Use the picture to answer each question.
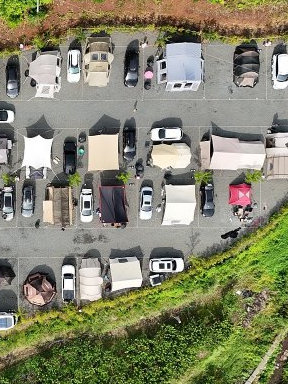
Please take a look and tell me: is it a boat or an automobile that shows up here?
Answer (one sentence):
The one in the frame is an automobile.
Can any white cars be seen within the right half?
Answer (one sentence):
Yes, a white car shows up within the right half.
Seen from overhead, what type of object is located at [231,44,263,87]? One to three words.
tent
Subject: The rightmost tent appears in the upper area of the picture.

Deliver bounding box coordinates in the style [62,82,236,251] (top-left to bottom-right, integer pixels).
[260,127,288,180]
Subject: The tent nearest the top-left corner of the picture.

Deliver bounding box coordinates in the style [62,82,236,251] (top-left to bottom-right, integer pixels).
[23,54,60,100]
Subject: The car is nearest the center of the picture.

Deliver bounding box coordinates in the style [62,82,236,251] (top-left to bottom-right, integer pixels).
[138,186,154,219]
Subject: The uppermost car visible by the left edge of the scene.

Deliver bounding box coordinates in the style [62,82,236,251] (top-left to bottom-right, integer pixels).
[5,64,20,98]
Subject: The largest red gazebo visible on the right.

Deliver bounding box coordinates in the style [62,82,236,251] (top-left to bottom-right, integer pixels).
[228,184,251,204]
